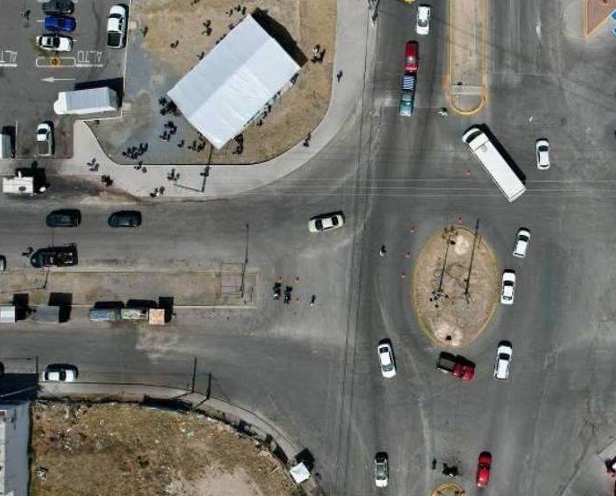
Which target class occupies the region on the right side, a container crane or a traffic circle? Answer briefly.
traffic circle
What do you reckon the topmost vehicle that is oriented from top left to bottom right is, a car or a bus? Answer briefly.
bus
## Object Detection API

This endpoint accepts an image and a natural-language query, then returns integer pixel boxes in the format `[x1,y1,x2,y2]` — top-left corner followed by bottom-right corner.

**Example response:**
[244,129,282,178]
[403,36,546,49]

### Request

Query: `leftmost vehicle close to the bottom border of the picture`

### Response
[374,455,389,488]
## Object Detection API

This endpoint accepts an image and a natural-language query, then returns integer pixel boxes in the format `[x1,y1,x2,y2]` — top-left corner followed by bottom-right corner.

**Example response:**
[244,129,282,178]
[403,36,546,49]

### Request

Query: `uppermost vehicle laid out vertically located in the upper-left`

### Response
[107,5,126,48]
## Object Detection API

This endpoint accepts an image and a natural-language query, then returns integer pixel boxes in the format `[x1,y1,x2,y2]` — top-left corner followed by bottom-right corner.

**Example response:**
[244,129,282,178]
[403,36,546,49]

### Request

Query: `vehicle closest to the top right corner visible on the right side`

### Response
[536,139,551,169]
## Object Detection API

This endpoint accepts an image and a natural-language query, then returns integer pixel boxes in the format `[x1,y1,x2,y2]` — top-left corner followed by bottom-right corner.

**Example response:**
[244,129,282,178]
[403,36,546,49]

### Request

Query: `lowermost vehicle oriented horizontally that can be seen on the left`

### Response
[45,368,78,383]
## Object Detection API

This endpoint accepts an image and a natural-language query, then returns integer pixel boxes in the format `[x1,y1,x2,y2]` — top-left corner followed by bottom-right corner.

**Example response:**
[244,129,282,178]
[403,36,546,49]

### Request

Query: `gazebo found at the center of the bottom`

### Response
[290,457,314,483]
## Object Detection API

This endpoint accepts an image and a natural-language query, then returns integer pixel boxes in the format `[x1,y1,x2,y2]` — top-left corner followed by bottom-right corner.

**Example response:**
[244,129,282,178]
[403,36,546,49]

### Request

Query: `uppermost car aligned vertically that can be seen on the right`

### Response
[416,5,431,37]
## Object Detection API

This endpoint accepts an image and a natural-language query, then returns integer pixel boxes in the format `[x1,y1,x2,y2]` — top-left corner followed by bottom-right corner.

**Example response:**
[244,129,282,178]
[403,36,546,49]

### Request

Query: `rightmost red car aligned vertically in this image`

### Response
[476,452,493,488]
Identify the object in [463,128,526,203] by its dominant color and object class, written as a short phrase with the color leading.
white bus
